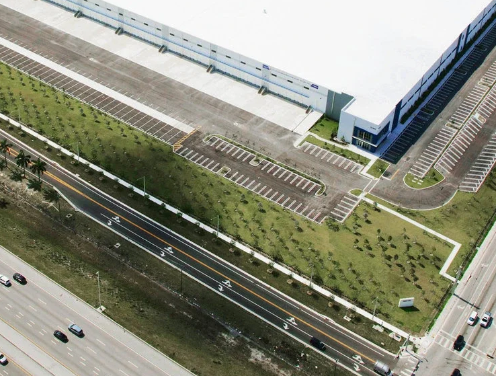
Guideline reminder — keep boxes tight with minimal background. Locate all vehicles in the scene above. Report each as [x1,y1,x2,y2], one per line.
[479,310,493,327]
[451,368,461,376]
[51,330,68,345]
[453,334,466,351]
[0,275,12,288]
[465,310,478,326]
[369,358,393,376]
[67,325,84,339]
[12,274,28,286]
[308,336,327,351]
[0,353,9,365]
